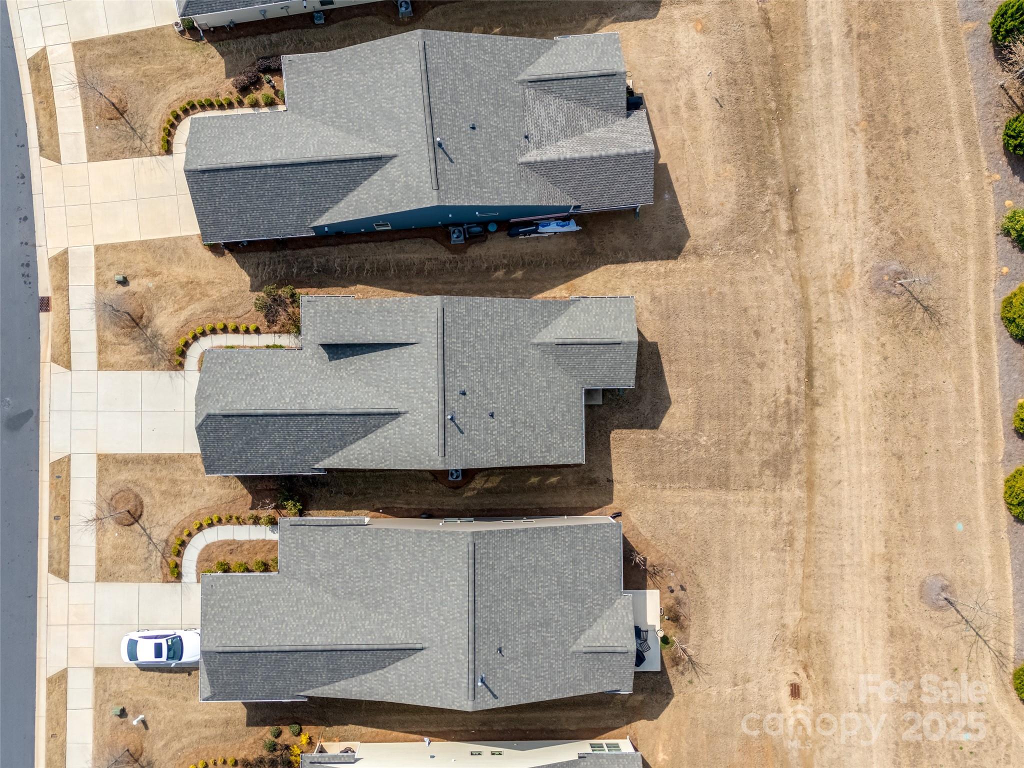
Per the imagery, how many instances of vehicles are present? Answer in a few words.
1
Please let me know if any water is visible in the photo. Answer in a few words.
No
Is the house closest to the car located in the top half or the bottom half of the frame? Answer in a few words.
bottom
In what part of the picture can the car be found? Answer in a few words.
bottom left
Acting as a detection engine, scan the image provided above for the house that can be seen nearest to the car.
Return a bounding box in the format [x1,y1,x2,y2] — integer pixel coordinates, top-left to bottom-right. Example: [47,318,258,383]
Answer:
[199,512,636,713]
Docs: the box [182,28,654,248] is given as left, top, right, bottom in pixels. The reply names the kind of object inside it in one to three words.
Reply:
house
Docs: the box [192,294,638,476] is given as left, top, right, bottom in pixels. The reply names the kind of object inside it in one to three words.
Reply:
house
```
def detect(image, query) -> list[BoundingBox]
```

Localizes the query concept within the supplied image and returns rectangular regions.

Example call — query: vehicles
[120,628,199,668]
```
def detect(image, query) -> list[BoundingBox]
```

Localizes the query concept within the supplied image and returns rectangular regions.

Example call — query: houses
[298,738,642,768]
[192,294,638,476]
[182,28,654,248]
[199,512,636,713]
[175,0,388,42]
